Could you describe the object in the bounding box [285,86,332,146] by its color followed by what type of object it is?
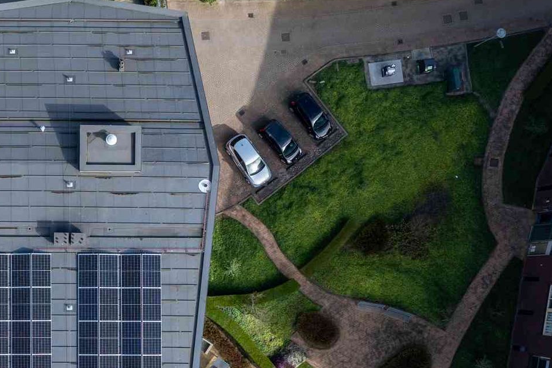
black car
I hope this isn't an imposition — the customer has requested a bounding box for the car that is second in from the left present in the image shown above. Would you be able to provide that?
[255,112,302,171]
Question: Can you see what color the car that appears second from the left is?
black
